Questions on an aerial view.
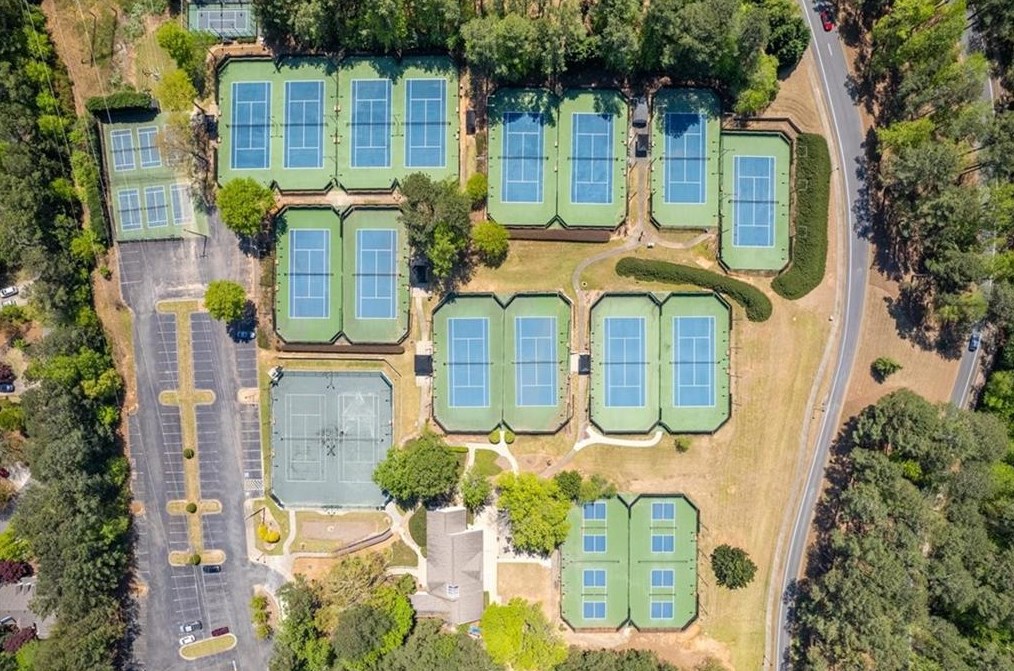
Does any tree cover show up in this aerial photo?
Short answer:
Yes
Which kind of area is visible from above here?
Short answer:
sports ground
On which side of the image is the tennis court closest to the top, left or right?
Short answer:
left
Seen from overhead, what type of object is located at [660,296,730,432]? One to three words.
tennis court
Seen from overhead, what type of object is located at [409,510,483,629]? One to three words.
building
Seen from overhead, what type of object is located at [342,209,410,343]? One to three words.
tennis court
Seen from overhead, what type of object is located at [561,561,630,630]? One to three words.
sports court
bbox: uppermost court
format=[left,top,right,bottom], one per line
[189,3,255,37]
